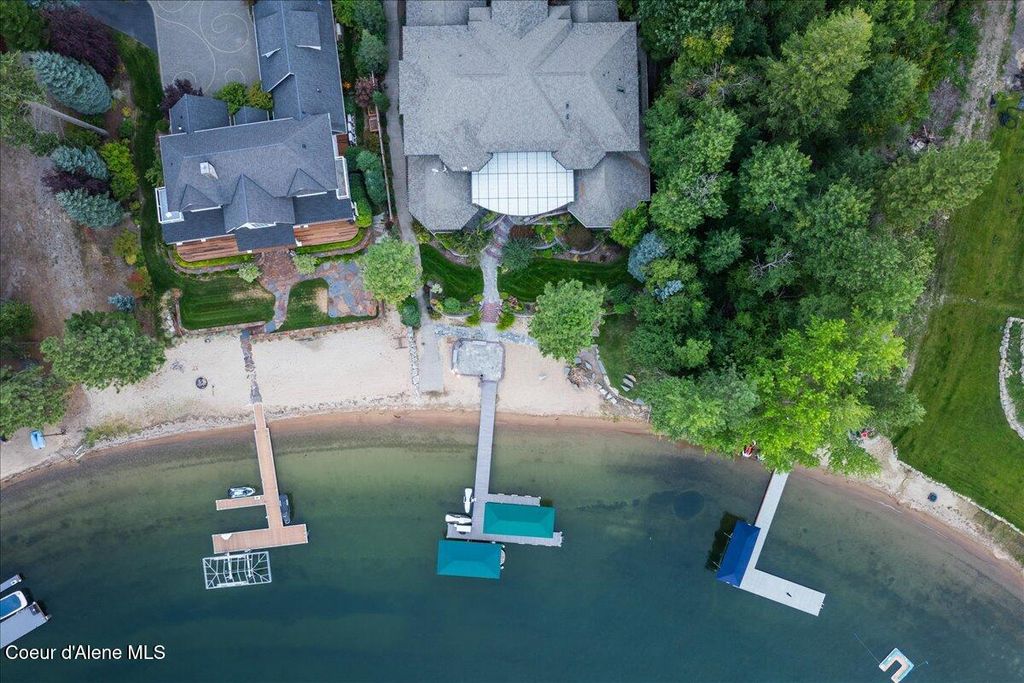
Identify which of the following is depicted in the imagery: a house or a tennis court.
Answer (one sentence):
The one in the frame is a house.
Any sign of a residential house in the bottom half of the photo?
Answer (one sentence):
No, no residential house appears in the bottom half of the photo.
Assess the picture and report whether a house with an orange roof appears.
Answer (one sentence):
No, there is no house with an orange roof in the image.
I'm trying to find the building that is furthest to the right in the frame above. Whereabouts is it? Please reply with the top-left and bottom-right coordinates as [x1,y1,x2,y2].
[399,0,651,233]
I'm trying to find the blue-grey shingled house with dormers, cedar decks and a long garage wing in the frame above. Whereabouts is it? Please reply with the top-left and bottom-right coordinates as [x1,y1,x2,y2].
[149,0,359,261]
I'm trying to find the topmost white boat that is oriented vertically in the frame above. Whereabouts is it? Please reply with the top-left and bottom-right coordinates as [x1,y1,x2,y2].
[460,487,473,515]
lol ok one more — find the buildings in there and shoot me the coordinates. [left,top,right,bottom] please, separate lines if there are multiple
[399,0,651,233]
[149,0,359,261]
